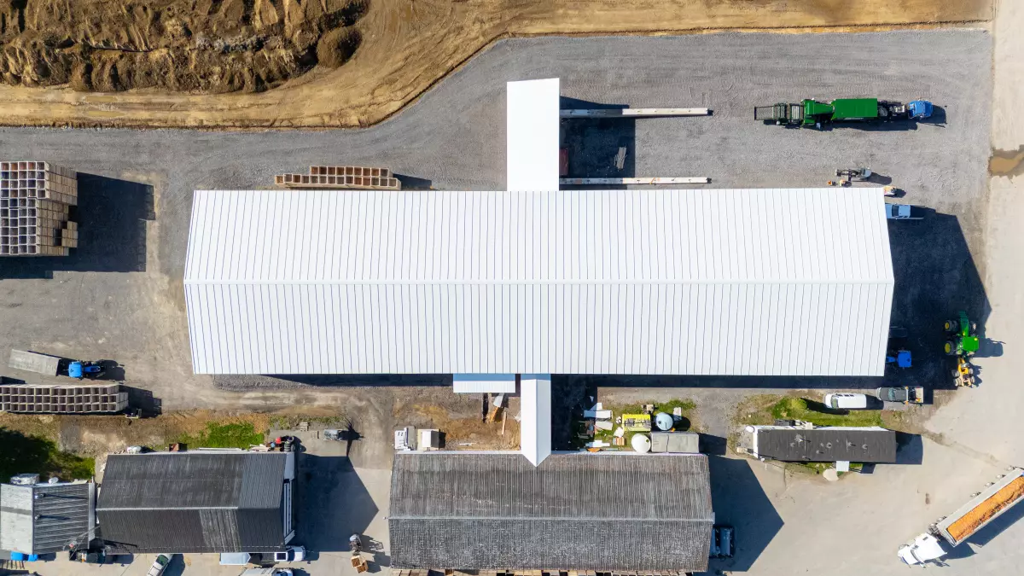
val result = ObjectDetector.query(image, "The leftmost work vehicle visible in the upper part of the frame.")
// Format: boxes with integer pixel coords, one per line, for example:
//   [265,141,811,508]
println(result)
[753,93,836,120]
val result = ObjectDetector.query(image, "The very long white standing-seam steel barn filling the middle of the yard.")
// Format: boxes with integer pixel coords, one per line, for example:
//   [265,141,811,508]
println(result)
[184,187,894,377]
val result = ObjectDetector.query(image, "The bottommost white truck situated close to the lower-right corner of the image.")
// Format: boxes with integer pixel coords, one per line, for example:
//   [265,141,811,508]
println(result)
[893,519,951,565]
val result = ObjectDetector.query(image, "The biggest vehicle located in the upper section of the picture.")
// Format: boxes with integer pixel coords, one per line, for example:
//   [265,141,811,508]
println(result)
[825,99,932,124]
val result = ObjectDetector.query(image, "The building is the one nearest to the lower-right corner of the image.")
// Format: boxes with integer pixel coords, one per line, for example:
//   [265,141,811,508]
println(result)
[751,426,896,463]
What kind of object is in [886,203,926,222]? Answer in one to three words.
vehicle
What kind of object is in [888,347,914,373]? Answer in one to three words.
work vehicle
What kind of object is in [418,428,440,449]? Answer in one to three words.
shed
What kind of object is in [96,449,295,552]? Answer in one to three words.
building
